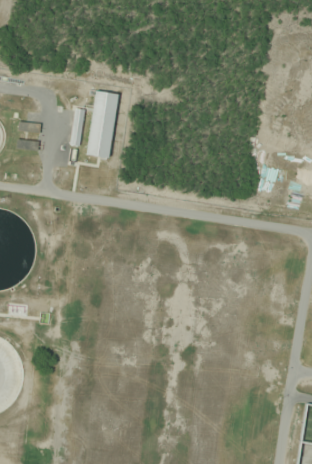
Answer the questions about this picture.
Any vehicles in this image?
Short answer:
No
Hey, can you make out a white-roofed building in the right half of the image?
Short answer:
No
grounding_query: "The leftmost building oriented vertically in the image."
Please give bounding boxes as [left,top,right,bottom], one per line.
[70,107,86,146]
